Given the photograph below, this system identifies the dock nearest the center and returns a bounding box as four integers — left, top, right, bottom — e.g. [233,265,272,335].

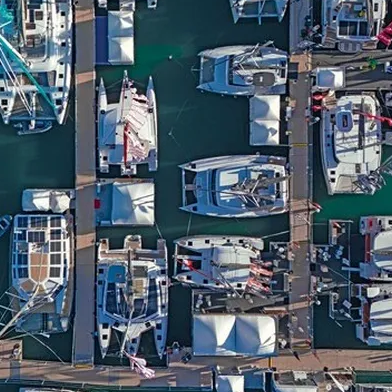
[95,182,157,227]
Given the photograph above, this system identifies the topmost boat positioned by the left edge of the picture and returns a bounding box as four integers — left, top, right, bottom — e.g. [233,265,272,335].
[0,0,78,126]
